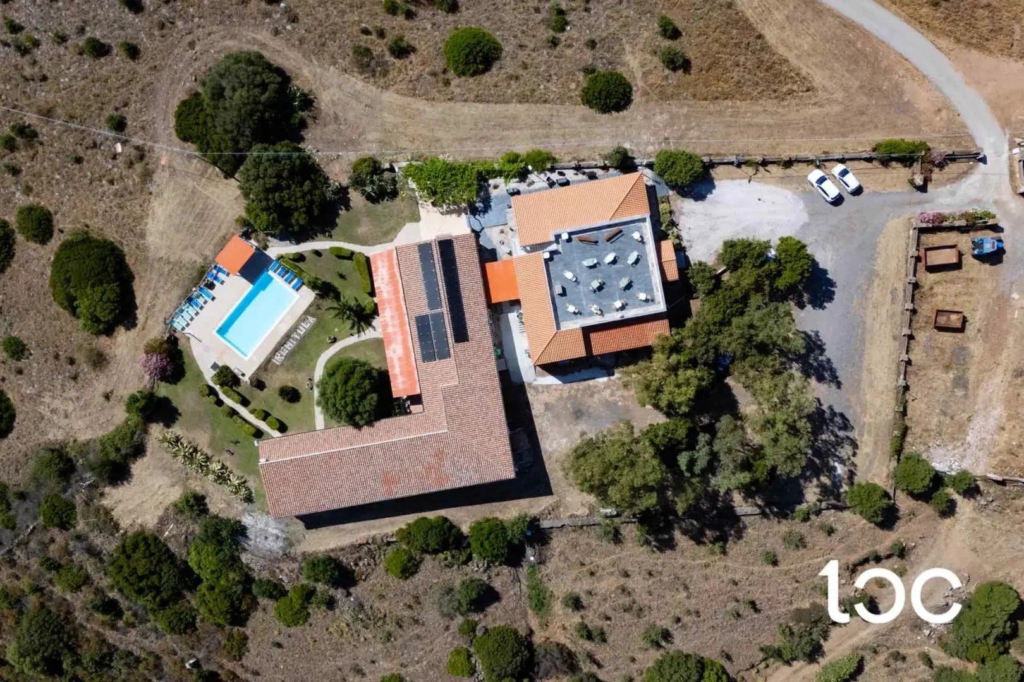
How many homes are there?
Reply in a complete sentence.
The number of homes here is 2.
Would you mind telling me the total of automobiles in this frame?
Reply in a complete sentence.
The count of automobiles comes to 2.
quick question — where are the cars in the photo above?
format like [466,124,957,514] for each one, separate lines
[807,168,841,205]
[831,163,860,195]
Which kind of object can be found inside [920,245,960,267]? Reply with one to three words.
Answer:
trailer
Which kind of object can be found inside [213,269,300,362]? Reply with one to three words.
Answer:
swimming pool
